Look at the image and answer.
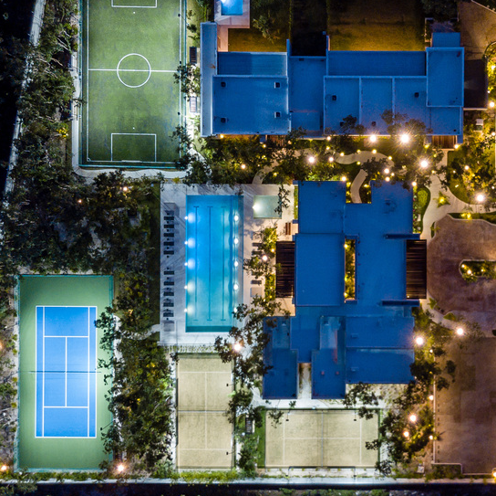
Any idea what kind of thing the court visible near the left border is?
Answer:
tennis court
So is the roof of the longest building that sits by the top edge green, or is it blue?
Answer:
blue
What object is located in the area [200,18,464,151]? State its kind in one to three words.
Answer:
building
